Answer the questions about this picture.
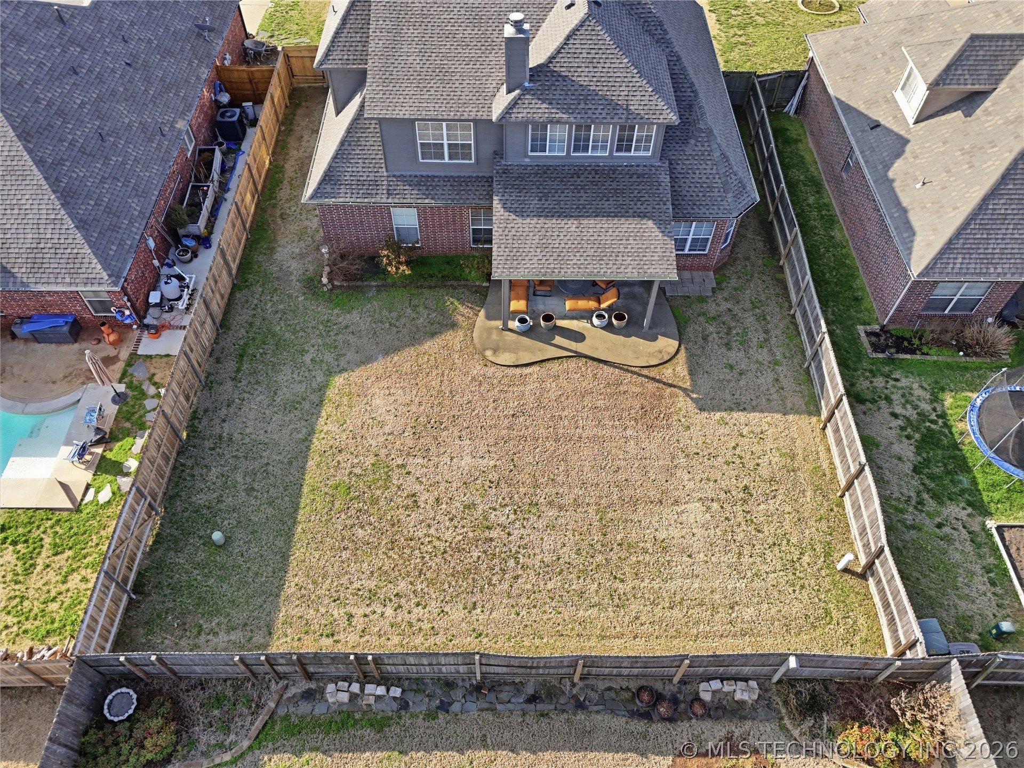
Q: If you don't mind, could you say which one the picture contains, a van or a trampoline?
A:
trampoline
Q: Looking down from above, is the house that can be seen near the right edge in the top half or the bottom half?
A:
top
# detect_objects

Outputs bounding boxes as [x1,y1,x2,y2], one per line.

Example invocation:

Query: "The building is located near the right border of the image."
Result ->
[791,0,1024,332]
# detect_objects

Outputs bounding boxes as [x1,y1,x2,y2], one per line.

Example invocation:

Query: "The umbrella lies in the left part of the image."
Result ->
[73,351,127,405]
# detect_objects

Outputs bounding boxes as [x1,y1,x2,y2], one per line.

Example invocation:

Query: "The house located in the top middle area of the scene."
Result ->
[299,0,764,330]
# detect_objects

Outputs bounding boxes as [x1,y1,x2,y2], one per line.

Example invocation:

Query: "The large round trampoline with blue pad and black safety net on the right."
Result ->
[947,341,1024,485]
